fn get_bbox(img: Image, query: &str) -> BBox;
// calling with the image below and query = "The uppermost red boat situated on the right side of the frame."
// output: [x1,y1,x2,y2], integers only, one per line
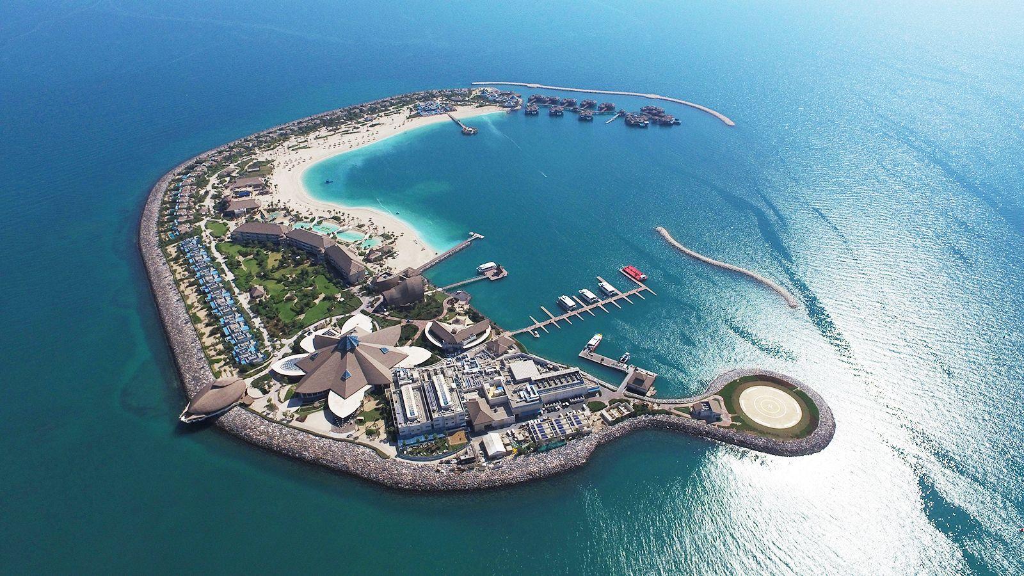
[621,266,647,281]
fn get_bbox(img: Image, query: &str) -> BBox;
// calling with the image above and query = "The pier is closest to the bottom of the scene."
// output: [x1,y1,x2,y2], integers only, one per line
[579,349,658,396]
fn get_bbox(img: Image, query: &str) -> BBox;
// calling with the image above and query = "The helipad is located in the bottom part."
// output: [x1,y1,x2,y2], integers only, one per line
[736,386,806,431]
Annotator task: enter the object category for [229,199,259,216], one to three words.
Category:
building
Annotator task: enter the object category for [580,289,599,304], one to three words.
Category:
ship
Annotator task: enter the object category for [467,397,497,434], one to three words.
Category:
house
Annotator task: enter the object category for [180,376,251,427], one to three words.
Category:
building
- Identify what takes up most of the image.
water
